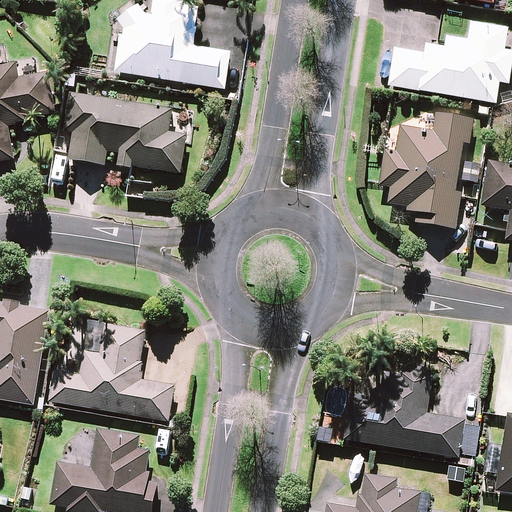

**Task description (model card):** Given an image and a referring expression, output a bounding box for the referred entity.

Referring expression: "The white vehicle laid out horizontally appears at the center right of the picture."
[472,237,502,252]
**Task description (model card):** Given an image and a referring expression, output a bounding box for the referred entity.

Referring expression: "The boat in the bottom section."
[351,449,366,484]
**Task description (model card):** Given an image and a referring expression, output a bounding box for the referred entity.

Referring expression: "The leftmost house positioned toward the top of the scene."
[0,60,54,162]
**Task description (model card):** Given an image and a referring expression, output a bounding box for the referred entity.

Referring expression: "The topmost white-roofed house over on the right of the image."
[386,20,512,102]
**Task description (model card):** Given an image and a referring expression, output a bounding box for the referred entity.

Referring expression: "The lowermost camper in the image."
[156,430,171,462]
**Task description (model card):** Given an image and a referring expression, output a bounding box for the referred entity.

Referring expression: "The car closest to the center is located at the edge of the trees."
[297,330,311,356]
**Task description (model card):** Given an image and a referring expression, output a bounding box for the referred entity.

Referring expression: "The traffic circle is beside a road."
[198,189,354,346]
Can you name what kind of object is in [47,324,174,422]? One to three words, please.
house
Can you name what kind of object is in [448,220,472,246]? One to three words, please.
car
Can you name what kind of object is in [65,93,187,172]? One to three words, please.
house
